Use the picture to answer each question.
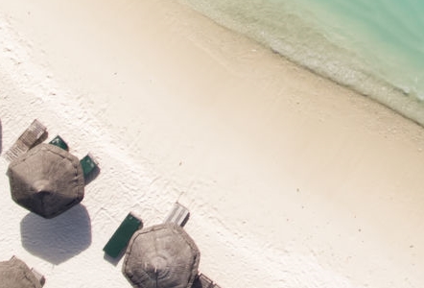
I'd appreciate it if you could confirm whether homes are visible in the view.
No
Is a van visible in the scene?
No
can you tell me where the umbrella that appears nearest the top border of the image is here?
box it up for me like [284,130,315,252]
[9,139,85,221]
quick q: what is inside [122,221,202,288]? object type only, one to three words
umbrella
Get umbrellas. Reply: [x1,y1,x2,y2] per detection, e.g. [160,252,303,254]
[0,254,46,288]
[9,139,85,221]
[122,221,202,288]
